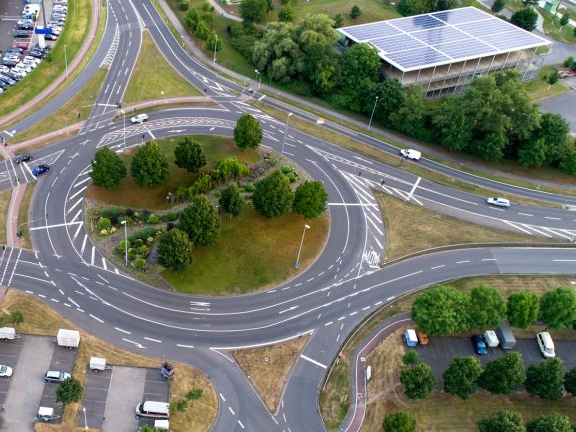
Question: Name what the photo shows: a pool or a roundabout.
roundabout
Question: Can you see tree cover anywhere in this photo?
Yes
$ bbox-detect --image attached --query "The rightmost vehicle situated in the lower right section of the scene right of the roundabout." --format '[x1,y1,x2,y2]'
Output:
[537,329,555,356]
